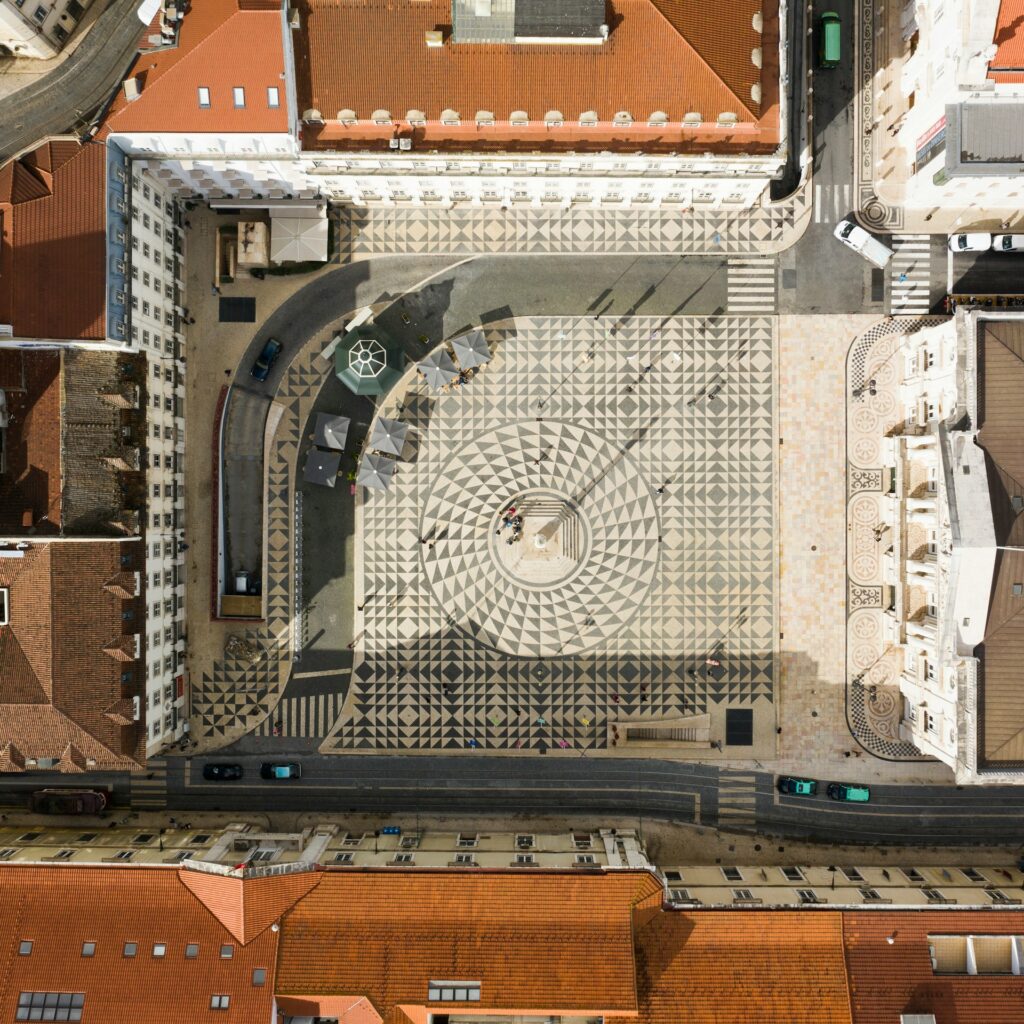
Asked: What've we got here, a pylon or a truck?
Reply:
truck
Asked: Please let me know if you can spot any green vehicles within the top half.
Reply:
Yes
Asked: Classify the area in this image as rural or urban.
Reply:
urban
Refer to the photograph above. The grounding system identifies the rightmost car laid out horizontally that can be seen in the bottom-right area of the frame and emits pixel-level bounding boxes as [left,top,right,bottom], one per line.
[825,780,870,801]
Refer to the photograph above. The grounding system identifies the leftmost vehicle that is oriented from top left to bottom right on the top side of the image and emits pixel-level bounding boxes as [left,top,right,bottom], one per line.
[833,222,894,272]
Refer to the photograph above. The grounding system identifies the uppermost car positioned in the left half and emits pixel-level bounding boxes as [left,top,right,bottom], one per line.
[251,339,284,382]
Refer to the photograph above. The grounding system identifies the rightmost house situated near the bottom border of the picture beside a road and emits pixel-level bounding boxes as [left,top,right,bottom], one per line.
[816,861,1024,1024]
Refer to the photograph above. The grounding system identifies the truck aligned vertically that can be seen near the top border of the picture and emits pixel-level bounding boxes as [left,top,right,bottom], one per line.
[818,14,842,75]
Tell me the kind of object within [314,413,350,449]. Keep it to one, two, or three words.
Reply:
umbrella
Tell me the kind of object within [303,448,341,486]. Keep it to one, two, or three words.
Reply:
umbrella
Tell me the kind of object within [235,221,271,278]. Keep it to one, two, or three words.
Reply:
shed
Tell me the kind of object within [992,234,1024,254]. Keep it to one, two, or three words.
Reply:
car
